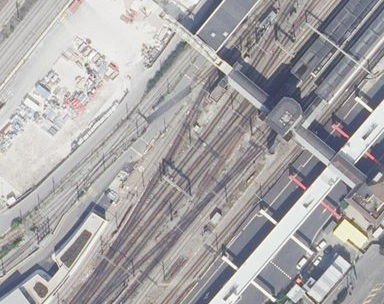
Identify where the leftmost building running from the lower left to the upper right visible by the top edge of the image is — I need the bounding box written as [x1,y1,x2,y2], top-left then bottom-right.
[196,0,259,54]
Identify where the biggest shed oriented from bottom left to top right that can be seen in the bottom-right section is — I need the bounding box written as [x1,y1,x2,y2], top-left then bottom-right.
[306,254,350,303]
